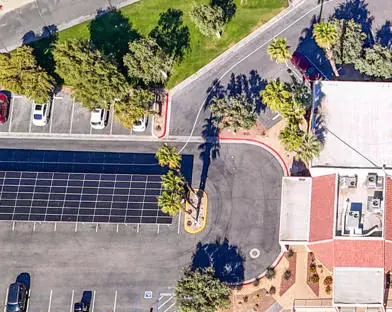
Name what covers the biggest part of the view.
paved ground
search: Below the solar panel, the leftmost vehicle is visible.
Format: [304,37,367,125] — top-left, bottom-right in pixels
[4,283,26,312]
